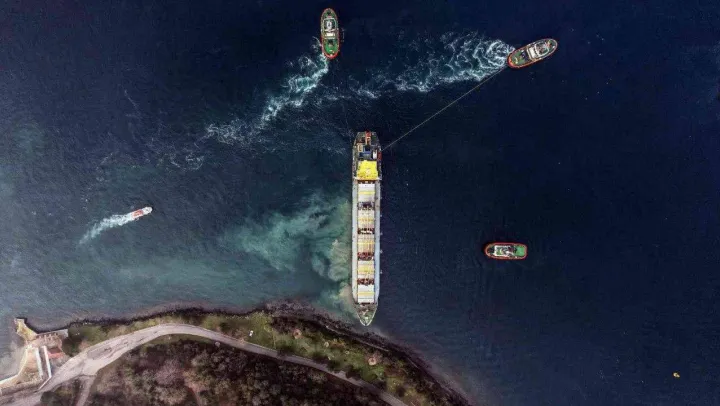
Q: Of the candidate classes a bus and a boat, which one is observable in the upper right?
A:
boat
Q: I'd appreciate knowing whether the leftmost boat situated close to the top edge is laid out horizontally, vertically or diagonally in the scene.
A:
vertically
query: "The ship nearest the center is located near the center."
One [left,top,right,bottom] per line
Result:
[352,130,382,326]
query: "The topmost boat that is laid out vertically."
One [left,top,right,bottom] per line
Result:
[320,6,340,58]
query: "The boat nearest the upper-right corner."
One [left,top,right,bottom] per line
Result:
[508,38,558,67]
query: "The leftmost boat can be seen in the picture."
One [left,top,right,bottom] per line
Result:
[129,208,153,221]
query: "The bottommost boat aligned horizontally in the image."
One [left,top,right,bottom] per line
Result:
[484,243,529,260]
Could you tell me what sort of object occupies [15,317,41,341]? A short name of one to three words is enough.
pier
